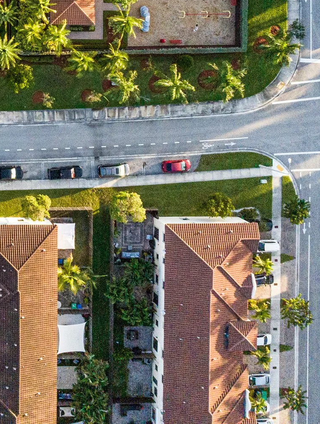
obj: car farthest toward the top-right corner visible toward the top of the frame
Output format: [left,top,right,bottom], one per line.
[159,159,191,173]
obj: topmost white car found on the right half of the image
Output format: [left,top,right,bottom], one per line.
[255,239,282,253]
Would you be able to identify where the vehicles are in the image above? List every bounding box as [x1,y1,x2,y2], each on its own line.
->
[159,159,191,173]
[258,332,273,347]
[255,273,278,287]
[249,372,272,388]
[0,165,23,181]
[96,162,129,178]
[47,165,82,180]
[255,239,282,253]
[250,398,275,413]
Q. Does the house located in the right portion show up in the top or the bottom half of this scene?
bottom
